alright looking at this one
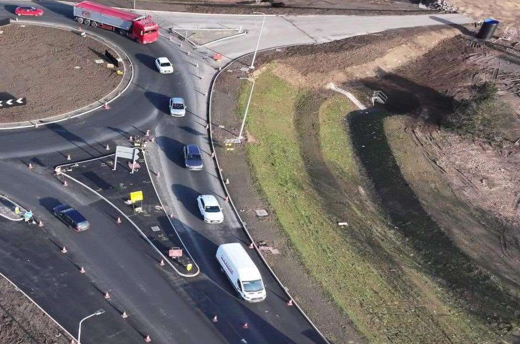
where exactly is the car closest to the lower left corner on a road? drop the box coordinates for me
[52,200,93,231]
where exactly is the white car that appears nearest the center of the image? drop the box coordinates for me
[196,191,224,222]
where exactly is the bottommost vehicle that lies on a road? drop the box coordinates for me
[219,228,272,299]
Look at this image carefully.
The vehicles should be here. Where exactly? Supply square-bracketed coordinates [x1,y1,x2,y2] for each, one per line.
[196,191,224,222]
[170,93,186,114]
[52,200,93,231]
[183,141,203,168]
[219,228,272,299]
[15,3,43,17]
[155,54,172,71]
[75,0,174,41]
